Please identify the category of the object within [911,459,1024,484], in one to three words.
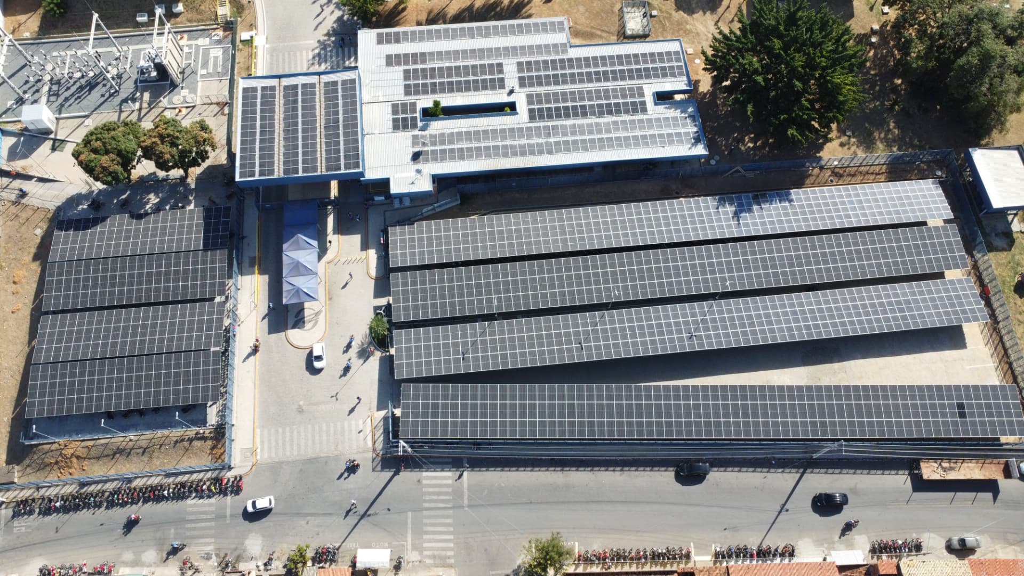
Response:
truck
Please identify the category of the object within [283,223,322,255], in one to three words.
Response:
tent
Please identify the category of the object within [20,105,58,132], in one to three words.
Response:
building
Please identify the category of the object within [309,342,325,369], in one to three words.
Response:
car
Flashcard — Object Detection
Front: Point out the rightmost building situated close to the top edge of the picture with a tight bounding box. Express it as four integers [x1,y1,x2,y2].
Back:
[357,16,710,208]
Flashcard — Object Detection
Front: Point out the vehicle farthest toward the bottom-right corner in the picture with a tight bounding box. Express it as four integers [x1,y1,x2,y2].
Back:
[947,537,986,554]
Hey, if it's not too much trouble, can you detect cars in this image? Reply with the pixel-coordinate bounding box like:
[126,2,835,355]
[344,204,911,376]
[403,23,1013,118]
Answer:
[812,493,852,510]
[947,537,986,554]
[309,342,325,369]
[243,496,273,513]
[675,462,711,479]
